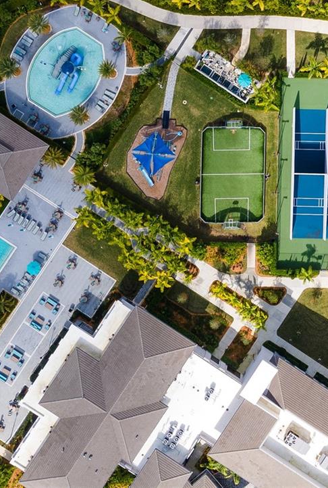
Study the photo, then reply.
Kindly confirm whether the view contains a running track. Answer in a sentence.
No, there isn't any running track down there.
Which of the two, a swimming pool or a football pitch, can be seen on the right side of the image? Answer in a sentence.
It is a football pitch that can be seen on the right side of the image.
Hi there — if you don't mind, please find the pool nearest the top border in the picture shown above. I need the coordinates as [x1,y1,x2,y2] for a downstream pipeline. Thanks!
[26,27,104,116]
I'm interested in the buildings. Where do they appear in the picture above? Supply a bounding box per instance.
[11,300,250,488]
[0,114,49,201]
